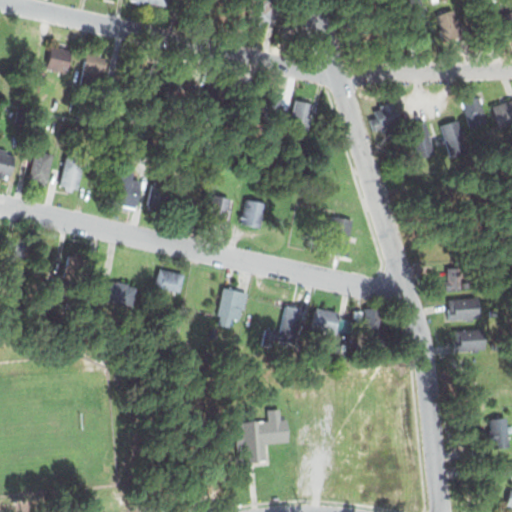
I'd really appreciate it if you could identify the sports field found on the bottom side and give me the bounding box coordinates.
[0,362,114,496]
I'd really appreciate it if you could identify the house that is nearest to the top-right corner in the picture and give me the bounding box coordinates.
[438,10,460,42]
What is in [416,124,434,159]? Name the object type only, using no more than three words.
house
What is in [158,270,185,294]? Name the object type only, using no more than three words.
house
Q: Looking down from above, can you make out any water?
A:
No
